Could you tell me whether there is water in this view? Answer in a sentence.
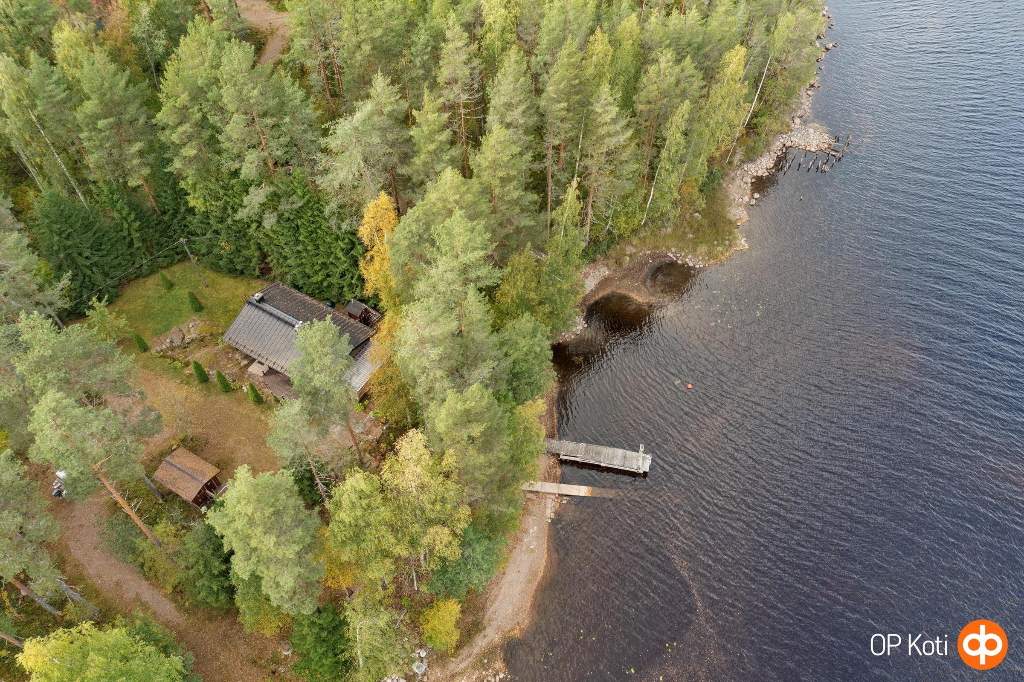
Yes, the picture does contain water.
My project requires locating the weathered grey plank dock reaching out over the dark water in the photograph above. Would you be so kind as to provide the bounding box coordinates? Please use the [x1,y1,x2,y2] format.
[543,441,653,478]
